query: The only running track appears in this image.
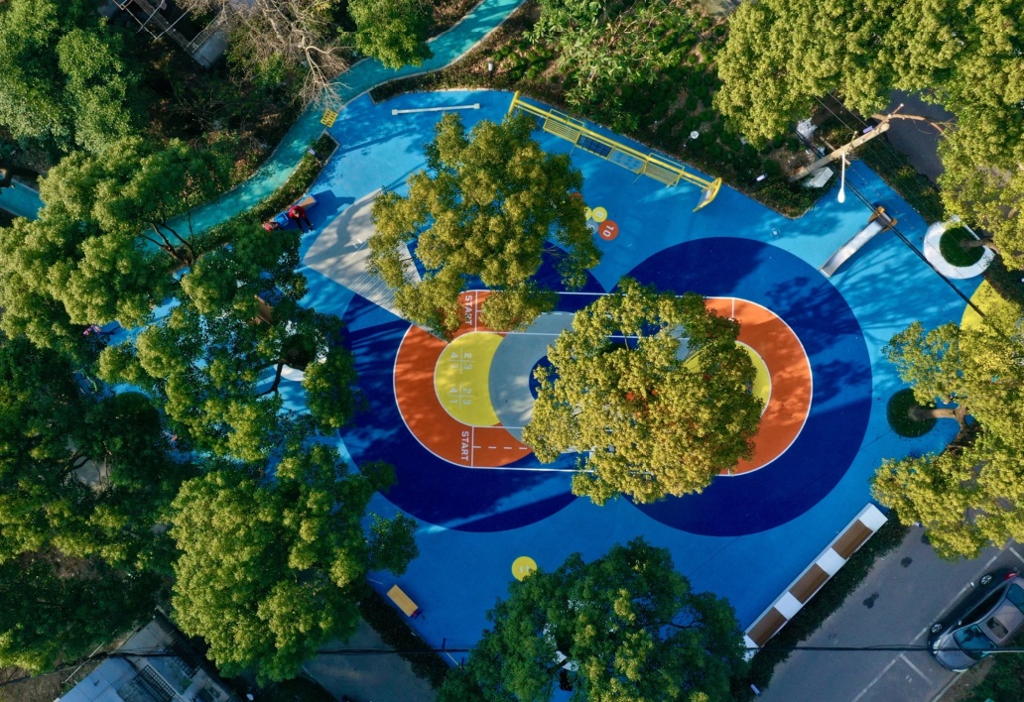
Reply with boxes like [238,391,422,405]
[341,233,874,537]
